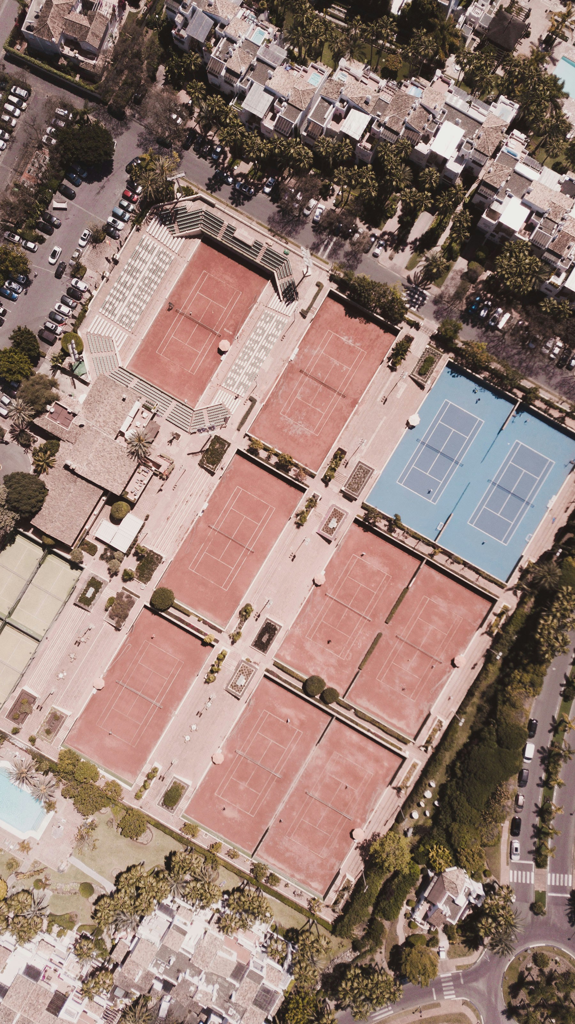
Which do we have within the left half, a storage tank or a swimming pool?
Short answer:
swimming pool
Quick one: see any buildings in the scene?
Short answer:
Yes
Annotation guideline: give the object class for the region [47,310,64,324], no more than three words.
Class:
car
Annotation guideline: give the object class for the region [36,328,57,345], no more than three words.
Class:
vehicle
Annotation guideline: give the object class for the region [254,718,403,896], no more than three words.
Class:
tennis court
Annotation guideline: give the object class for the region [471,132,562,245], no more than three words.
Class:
house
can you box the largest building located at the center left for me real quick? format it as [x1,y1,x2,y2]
[29,371,142,548]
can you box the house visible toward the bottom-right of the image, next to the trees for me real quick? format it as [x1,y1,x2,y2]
[410,853,486,930]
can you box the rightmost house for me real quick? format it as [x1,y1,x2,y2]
[520,169,575,300]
